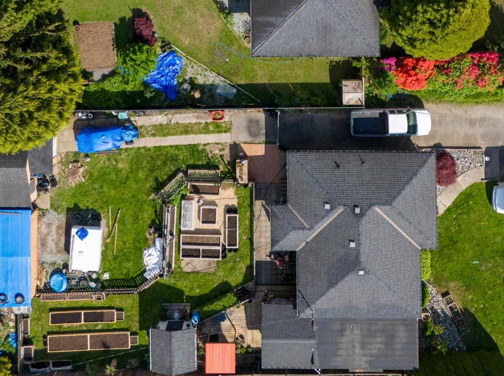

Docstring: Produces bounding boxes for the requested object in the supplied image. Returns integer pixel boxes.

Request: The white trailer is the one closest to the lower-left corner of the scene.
[72,206,109,273]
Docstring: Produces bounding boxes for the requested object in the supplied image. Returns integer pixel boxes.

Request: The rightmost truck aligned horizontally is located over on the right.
[348,103,431,138]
